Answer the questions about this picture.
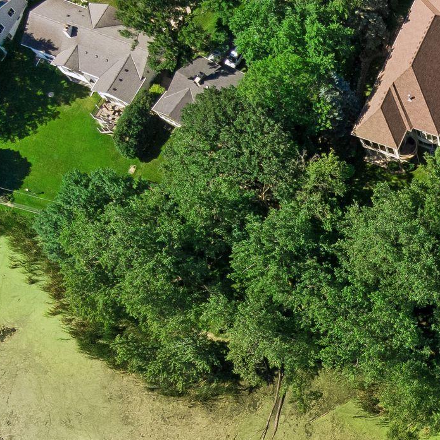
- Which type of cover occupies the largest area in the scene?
trees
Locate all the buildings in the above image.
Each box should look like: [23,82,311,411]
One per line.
[357,0,440,161]
[154,55,267,132]
[21,0,164,141]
